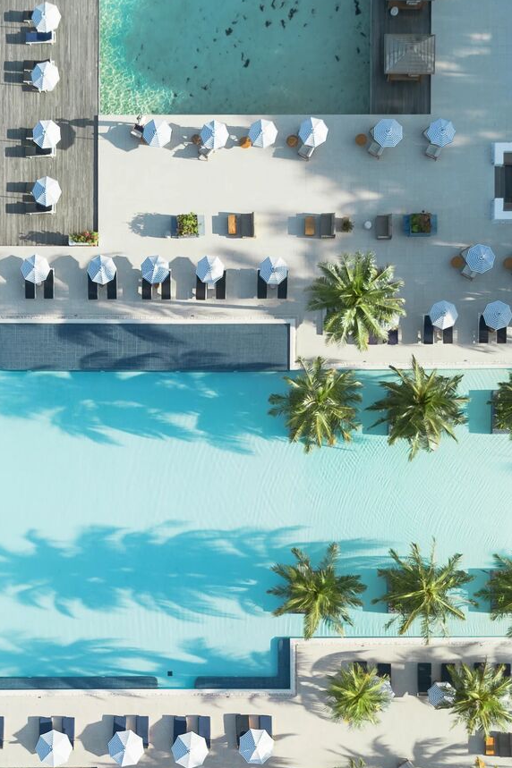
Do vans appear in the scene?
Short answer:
No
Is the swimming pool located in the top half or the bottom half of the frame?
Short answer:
bottom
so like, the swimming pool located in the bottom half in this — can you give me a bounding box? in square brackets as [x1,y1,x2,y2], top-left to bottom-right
[0,325,512,689]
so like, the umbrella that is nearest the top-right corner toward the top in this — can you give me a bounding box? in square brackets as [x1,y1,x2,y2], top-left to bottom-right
[426,119,455,148]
